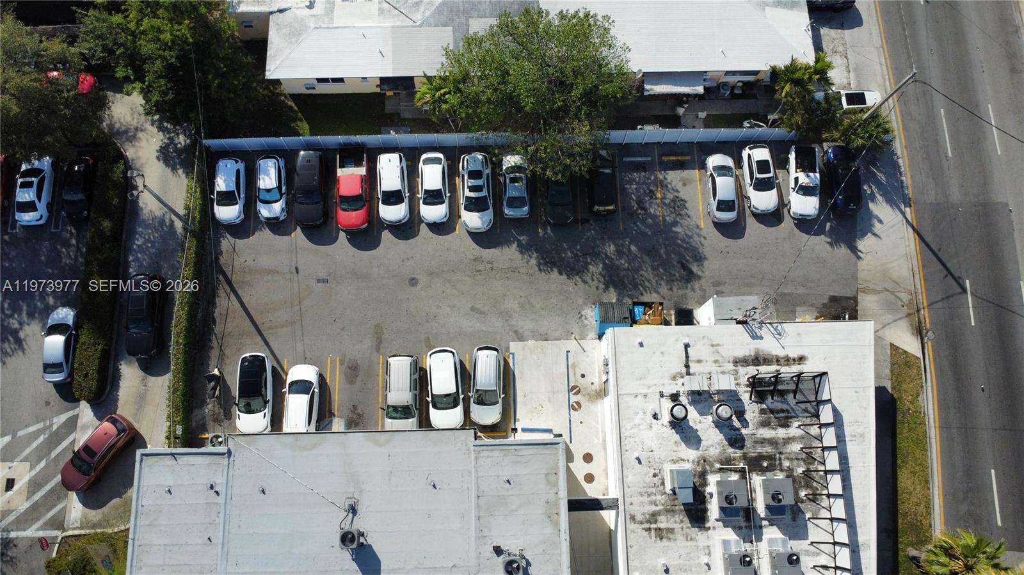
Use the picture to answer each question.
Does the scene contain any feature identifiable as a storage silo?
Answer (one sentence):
No, I find no storage silo anywhere in the image.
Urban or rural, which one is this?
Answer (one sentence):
The land in this view is best described as urban.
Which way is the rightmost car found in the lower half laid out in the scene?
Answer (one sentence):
In this picture, the rightmost car found in the lower half lies up and down.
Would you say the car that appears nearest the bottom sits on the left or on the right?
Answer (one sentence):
It is on the left.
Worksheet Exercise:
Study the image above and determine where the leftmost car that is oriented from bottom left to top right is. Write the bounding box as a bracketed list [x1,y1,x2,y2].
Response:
[66,413,139,489]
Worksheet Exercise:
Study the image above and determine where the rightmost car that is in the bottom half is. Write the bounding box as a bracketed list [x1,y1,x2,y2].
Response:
[468,347,505,426]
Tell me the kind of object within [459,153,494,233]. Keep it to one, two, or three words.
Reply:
car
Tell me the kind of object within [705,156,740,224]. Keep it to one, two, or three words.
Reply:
car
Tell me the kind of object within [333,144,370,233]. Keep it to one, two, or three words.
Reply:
truck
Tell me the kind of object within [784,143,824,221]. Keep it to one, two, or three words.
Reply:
truck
